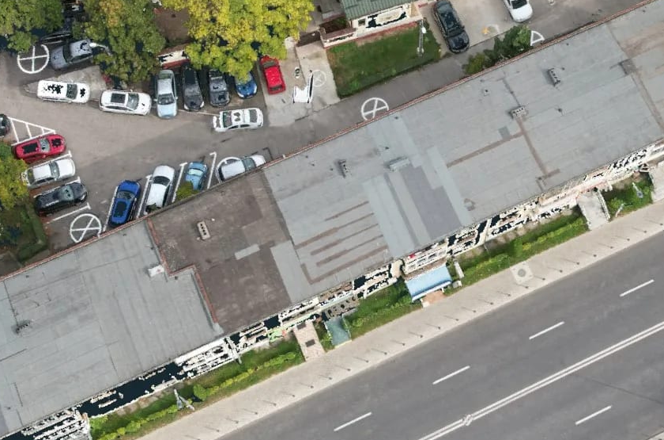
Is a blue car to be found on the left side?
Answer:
Yes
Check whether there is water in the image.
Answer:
No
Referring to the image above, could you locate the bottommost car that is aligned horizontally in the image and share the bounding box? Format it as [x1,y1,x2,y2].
[32,182,89,216]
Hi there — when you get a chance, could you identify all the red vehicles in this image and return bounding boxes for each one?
[11,132,67,164]
[261,56,284,96]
